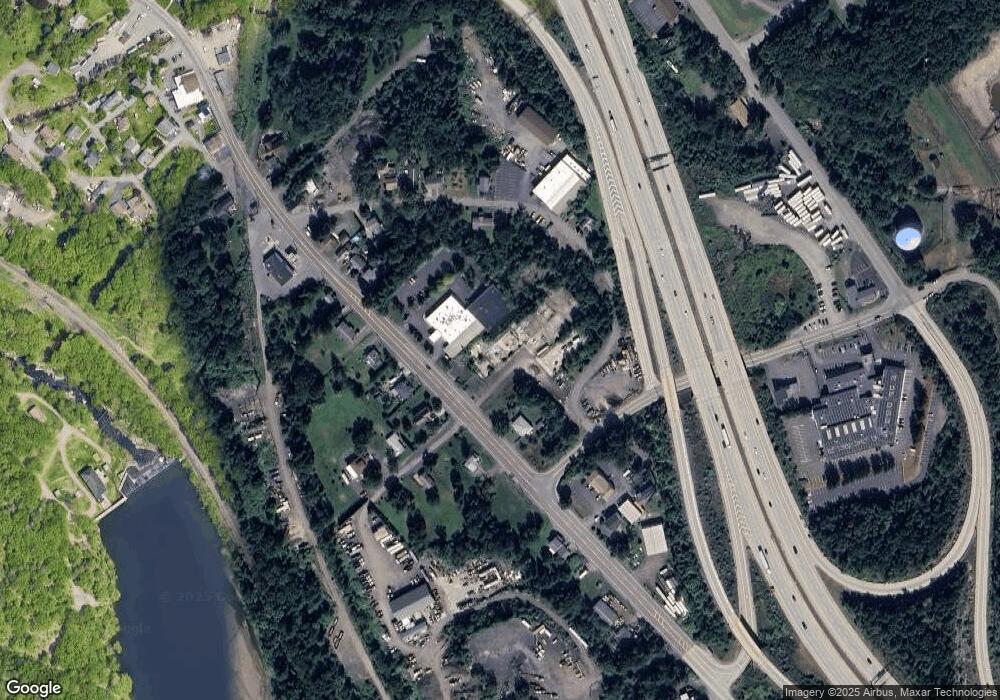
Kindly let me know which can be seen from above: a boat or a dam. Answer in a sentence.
Of the two, only a dam appears.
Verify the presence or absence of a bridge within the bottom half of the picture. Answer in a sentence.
Yes, the scene does show a bridge within the bottom half of the picture.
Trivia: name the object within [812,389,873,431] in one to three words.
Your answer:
building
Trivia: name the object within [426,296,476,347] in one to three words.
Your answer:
building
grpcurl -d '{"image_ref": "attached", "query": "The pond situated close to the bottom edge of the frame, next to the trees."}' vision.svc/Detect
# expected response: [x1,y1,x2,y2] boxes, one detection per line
[98,462,270,700]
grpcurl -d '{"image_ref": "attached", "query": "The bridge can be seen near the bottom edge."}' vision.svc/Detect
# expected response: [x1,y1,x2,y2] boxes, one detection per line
[723,612,797,687]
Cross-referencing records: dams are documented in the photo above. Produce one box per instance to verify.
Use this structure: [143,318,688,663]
[95,452,182,520]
